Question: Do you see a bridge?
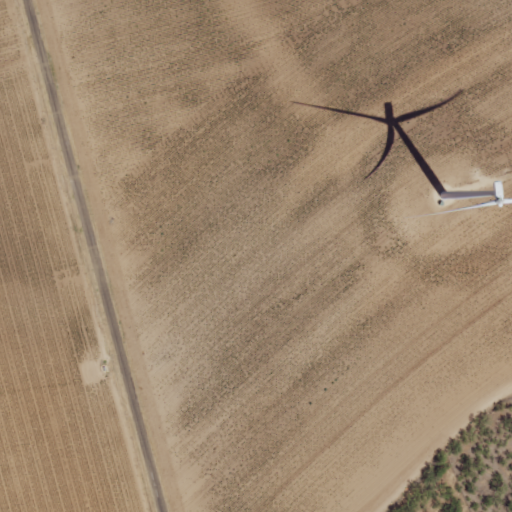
No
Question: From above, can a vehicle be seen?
No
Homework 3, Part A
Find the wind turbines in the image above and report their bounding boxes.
[418,182,512,218]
